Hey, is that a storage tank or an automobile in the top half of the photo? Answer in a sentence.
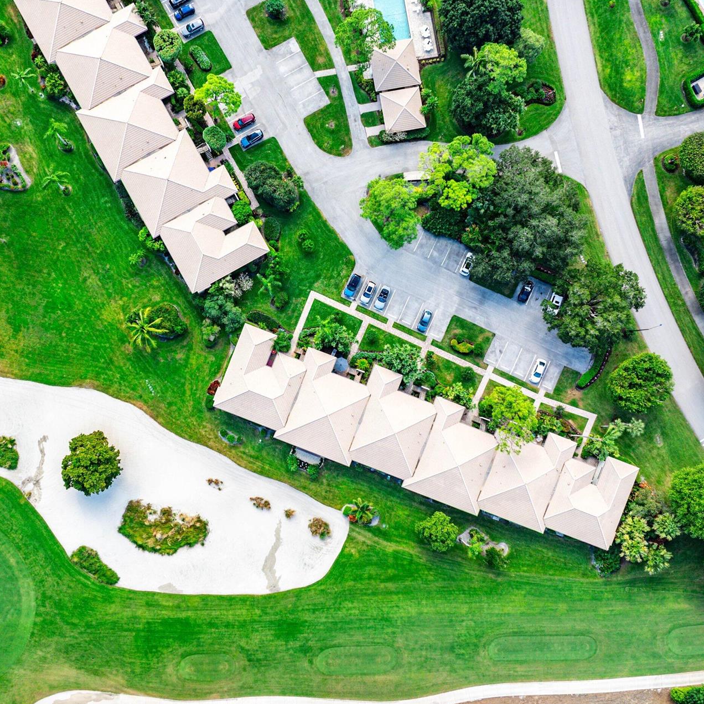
You can see an automobile in the top half of the photo.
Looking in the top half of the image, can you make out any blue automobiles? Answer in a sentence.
Yes, a blue automobile appears in the top half of the image.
